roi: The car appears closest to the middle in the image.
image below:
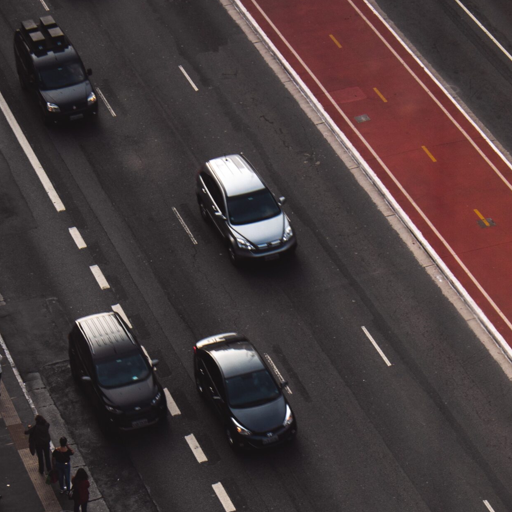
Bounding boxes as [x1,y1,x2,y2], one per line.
[195,151,294,264]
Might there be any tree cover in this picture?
No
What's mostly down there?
paved ground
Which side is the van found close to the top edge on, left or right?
left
